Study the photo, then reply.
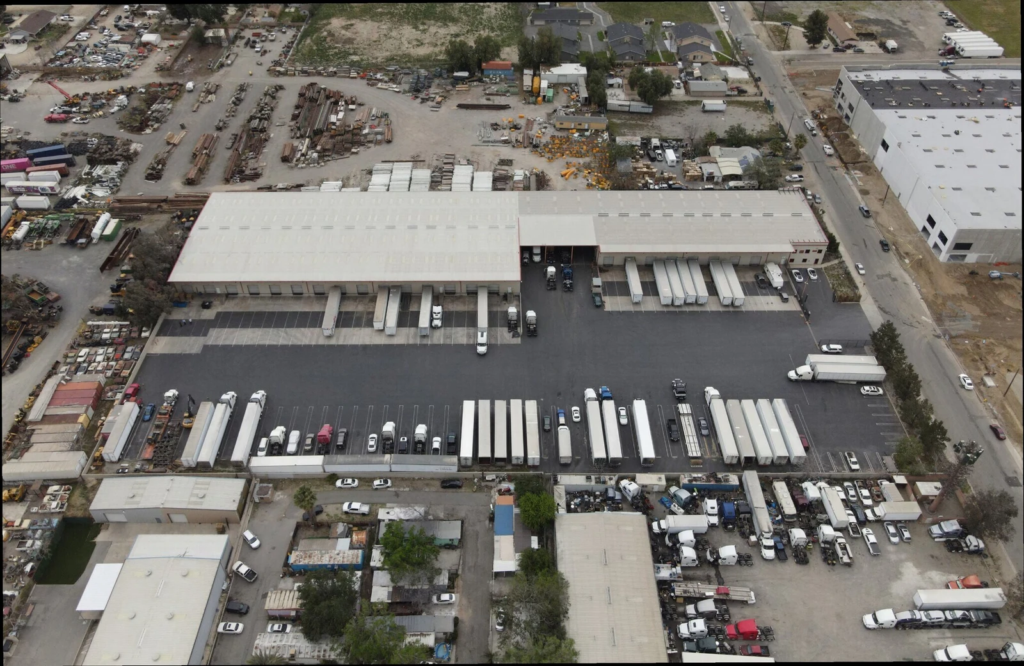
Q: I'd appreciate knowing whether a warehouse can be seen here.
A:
Yes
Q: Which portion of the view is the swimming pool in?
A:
bottom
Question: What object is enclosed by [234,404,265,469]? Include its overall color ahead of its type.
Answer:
white trailer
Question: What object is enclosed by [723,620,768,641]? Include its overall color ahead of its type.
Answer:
red truck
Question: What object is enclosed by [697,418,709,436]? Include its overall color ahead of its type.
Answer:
gray vehicle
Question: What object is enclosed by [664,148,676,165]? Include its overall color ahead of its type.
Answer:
white vehicle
